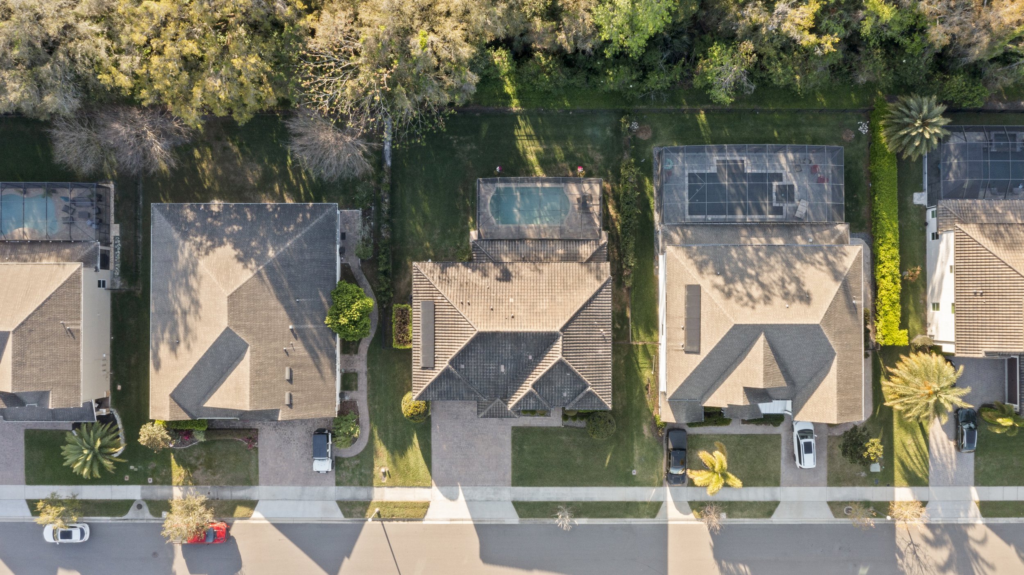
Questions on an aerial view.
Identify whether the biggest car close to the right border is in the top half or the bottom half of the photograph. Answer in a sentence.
It is in the bottom half that the biggest car close to the right border appears.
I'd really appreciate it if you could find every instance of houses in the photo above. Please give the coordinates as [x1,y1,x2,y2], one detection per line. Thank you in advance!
[924,199,1024,413]
[411,239,613,418]
[0,240,110,423]
[659,222,865,423]
[149,202,342,421]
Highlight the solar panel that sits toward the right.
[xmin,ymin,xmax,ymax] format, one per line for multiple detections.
[684,285,700,353]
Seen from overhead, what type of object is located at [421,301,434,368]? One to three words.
solar panel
